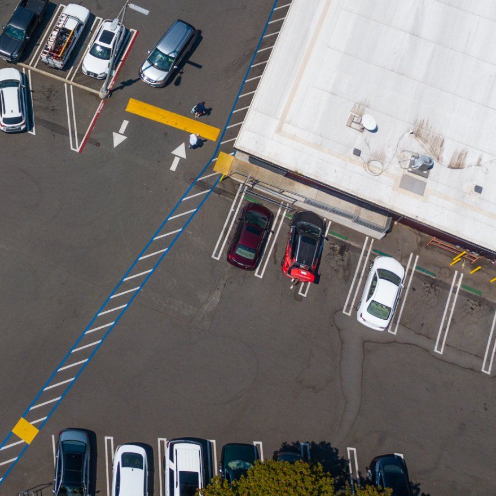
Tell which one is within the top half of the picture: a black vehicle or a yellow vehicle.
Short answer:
black vehicle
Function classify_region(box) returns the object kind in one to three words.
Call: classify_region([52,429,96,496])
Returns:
car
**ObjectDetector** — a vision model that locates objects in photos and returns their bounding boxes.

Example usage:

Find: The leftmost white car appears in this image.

[0,70,27,134]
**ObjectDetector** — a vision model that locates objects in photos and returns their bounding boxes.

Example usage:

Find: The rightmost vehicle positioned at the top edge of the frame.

[143,19,196,90]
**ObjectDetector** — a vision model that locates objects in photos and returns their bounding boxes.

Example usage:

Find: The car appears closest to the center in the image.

[226,201,274,274]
